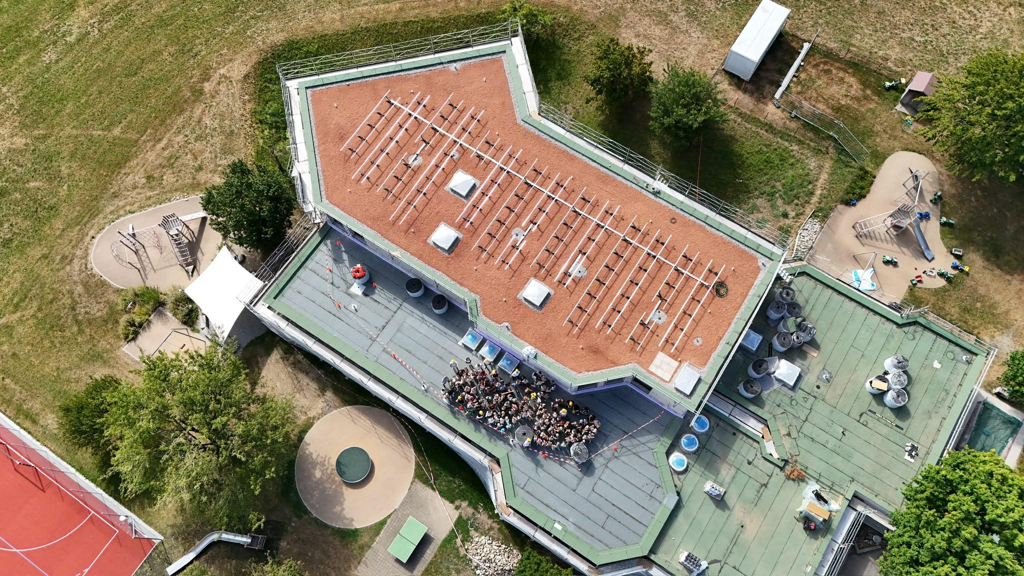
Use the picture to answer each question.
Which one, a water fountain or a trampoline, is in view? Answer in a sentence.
Looking from above, you can make out a trampoline.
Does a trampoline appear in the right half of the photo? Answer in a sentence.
No, looking in the right half of the photo, there is no trampoline.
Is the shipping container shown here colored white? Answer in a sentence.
Yes, white is the color of the shipping container.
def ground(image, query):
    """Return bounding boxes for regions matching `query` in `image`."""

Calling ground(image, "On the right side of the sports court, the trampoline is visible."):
[335,446,372,484]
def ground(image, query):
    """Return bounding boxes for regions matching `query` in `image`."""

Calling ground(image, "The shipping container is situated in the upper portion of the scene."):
[721,0,791,82]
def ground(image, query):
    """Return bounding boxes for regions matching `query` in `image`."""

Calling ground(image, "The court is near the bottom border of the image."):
[0,433,155,576]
